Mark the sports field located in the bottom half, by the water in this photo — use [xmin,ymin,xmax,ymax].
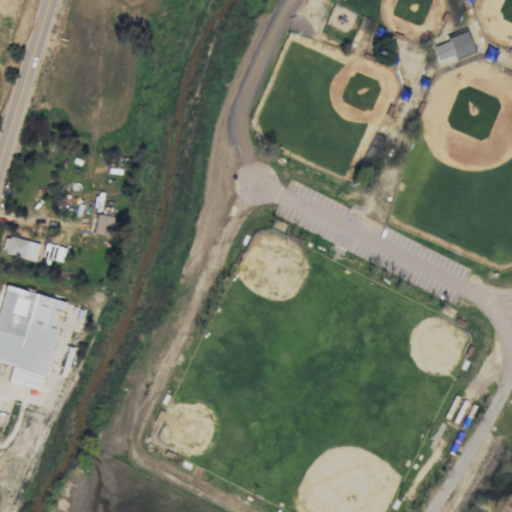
[154,229,470,512]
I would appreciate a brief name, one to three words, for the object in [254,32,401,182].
baseball field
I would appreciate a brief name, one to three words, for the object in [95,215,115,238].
house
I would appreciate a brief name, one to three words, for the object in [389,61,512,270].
baseball field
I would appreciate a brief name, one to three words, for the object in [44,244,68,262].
shed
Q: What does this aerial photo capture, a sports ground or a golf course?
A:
sports ground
